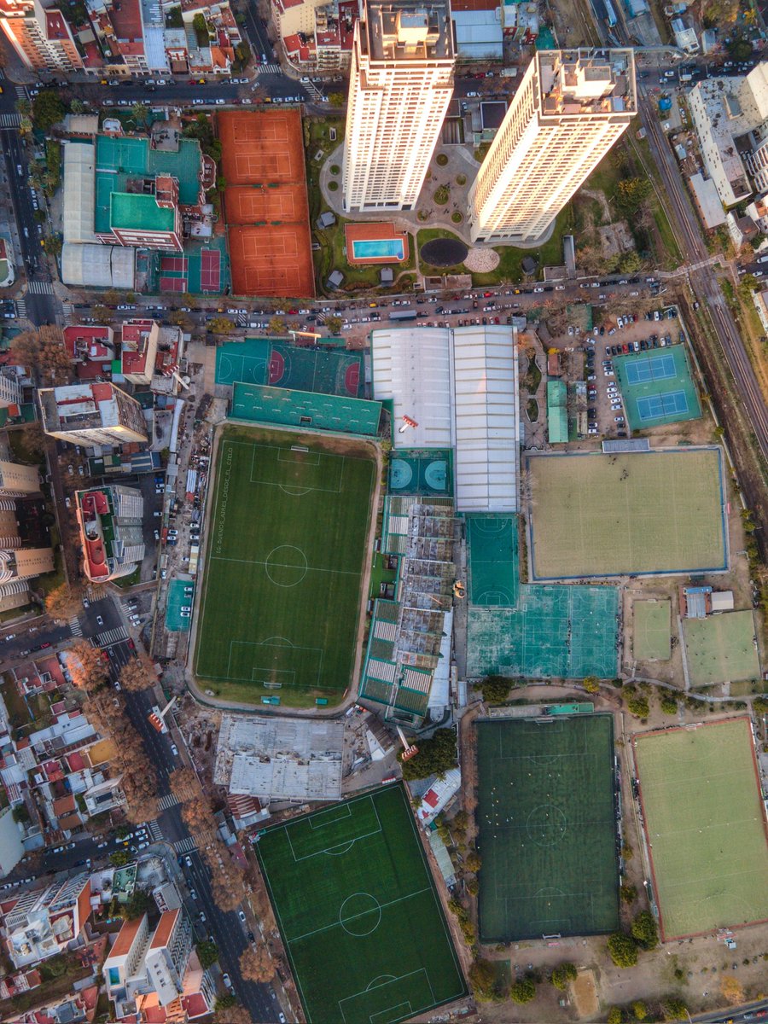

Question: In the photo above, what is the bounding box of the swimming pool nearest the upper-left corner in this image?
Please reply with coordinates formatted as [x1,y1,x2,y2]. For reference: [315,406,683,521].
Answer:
[346,223,409,264]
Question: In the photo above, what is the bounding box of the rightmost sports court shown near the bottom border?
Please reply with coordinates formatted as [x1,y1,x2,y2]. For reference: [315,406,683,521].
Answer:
[571,966,602,1020]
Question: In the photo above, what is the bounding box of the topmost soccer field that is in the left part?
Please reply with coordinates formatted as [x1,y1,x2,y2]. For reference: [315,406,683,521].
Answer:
[196,441,375,688]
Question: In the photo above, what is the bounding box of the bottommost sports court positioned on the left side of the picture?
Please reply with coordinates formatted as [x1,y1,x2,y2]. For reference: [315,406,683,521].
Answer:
[166,579,193,631]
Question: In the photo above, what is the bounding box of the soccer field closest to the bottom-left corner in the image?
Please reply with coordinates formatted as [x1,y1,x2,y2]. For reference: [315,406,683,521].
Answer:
[251,780,470,1024]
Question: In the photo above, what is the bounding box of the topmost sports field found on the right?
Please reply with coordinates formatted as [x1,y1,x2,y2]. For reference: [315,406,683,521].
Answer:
[527,448,727,579]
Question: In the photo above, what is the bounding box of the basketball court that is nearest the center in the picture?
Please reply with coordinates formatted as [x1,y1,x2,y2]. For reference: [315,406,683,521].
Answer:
[389,449,453,495]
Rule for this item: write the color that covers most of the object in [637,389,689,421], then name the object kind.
blue tennis court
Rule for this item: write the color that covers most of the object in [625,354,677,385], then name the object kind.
blue tennis court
